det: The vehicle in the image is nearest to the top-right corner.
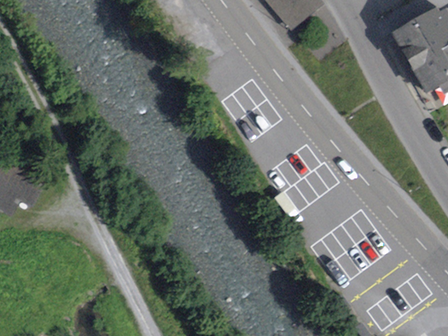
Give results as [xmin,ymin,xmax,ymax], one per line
[425,119,442,142]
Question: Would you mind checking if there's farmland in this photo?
No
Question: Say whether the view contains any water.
Yes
